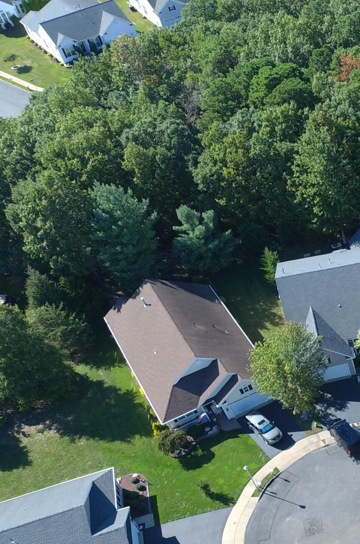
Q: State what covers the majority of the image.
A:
trees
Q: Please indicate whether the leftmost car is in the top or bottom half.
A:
bottom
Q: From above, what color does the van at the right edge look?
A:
black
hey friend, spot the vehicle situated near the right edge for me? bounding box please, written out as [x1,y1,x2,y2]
[327,419,360,455]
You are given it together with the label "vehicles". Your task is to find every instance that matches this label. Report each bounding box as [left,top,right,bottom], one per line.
[327,419,360,455]
[246,412,281,444]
